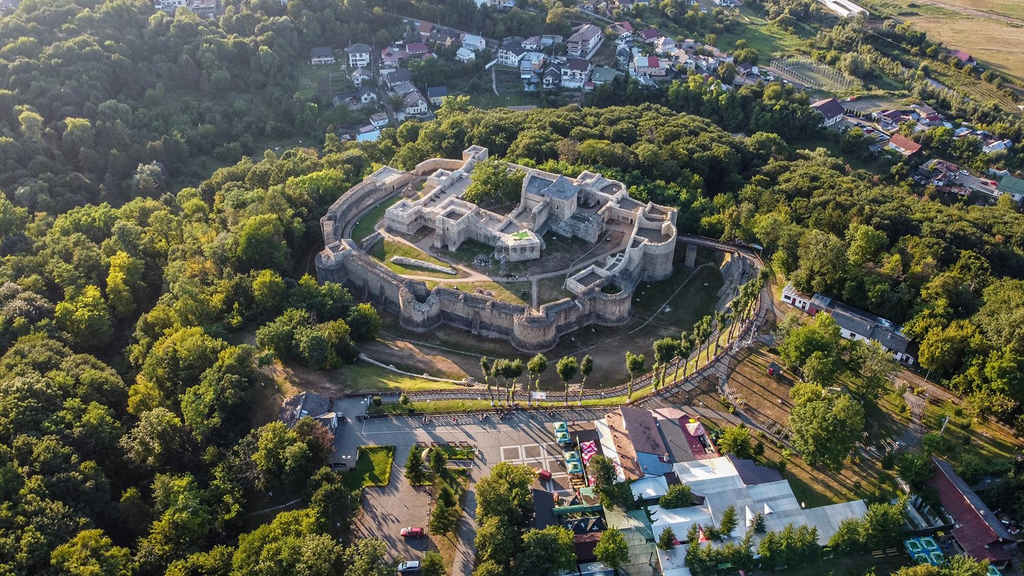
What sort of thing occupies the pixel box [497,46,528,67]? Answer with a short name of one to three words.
house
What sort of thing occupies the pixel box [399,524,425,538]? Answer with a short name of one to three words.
car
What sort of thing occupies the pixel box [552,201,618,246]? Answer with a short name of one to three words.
building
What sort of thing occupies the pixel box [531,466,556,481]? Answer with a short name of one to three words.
car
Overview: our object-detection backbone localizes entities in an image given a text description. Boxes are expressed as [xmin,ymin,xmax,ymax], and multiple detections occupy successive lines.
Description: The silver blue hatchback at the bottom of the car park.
[393,559,421,575]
